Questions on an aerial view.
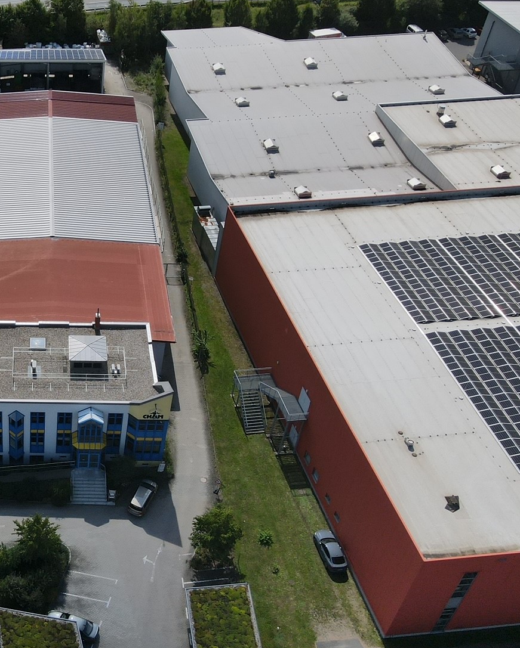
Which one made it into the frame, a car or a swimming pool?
car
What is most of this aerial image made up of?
buildings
